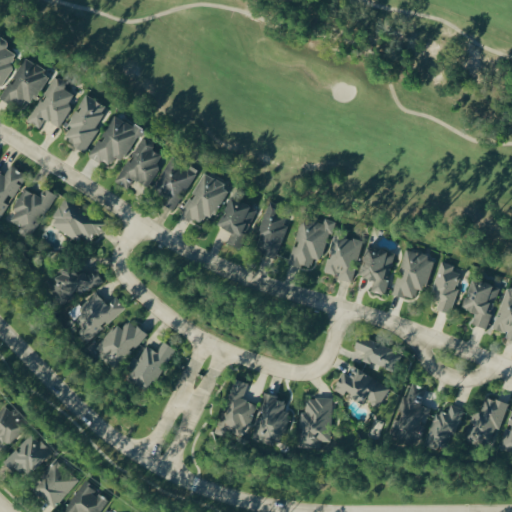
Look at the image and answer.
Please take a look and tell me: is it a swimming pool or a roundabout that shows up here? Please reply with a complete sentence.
Of the two, only a swimming pool appears.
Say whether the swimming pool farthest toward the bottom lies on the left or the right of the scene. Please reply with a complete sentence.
The swimming pool farthest toward the bottom appears in the right half of the scene.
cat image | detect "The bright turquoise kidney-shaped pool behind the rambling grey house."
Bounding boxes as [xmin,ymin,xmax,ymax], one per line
[347,398,371,424]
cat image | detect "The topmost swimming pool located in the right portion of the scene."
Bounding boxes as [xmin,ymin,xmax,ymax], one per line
[371,230,402,254]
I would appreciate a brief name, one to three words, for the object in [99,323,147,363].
house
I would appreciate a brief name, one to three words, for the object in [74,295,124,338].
house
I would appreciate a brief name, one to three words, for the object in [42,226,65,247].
swimming pool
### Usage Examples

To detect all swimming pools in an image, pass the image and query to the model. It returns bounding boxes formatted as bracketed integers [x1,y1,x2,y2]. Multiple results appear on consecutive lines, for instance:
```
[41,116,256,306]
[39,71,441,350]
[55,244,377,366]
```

[42,226,65,247]
[371,230,402,254]
[347,398,371,424]
[460,272,470,297]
